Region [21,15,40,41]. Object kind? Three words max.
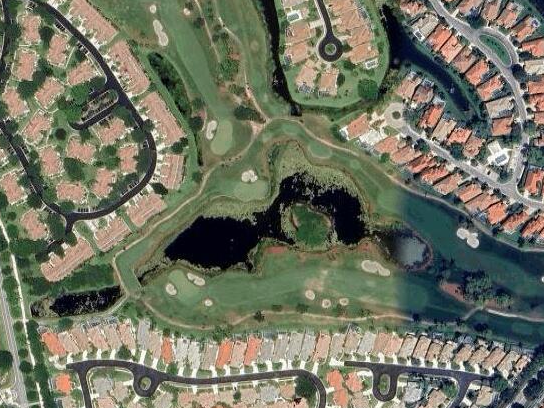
building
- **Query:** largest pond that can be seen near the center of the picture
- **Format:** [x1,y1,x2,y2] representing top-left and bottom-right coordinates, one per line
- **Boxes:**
[167,174,367,269]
